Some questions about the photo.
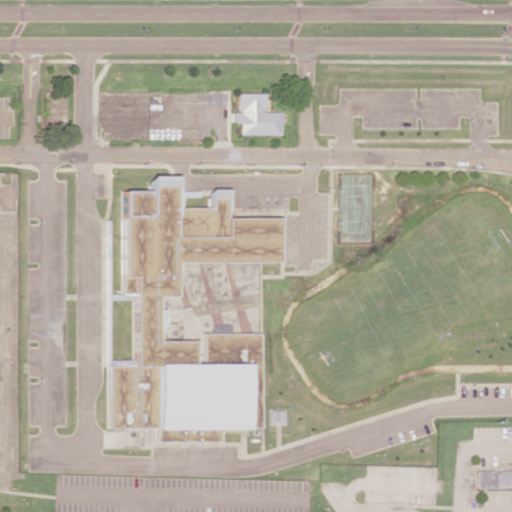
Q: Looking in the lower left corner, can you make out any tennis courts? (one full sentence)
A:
No, no tennis court is visible in the lower left corner.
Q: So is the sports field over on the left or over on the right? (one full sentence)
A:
The sports field sits on the right side.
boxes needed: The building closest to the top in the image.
[235,94,286,137]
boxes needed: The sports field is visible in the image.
[288,192,512,402]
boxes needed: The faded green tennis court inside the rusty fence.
[340,174,372,242]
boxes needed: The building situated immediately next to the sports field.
[107,176,286,442]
